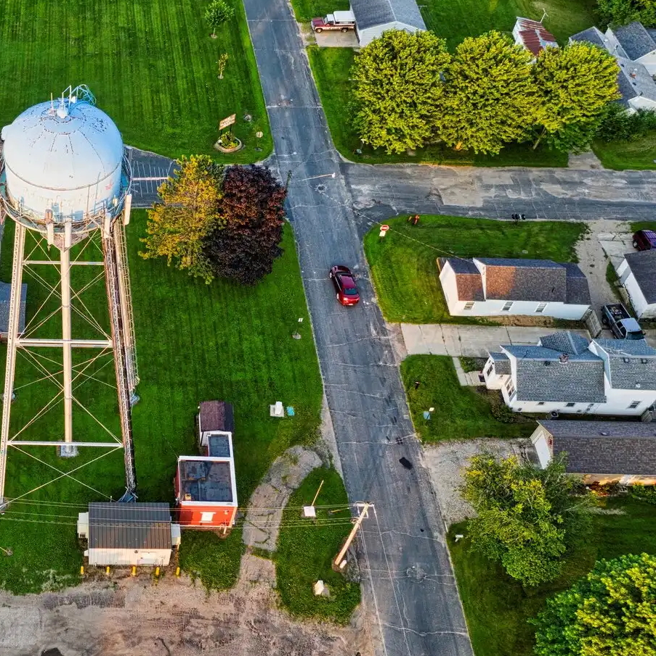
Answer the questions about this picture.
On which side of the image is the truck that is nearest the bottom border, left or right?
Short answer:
right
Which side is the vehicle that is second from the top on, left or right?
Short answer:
right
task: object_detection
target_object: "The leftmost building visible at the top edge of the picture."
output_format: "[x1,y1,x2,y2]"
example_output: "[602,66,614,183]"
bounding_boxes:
[347,0,427,47]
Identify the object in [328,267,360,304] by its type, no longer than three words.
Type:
car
